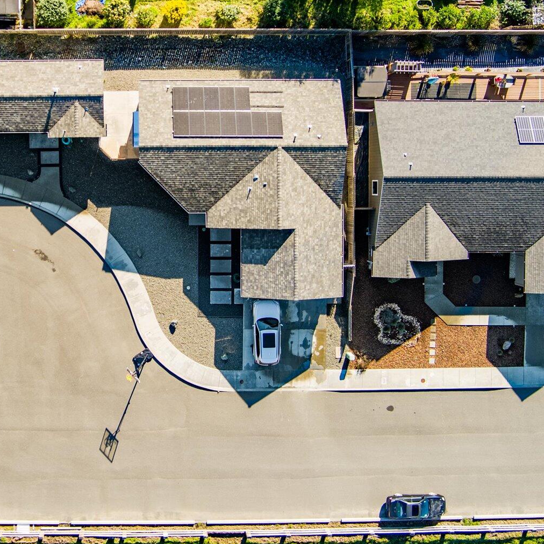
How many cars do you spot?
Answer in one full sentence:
The number of cars here is 2.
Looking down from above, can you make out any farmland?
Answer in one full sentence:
No, the scene doesn't show any farmland.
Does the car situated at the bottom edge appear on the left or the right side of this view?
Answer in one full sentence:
The car situated at the bottom edge is on the right side of the image.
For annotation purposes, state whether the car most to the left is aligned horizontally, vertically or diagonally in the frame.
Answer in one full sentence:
From this overhead view, the car most to the left appears to run vertically.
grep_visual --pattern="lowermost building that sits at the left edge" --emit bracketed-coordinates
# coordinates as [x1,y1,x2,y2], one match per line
[0,57,107,137]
